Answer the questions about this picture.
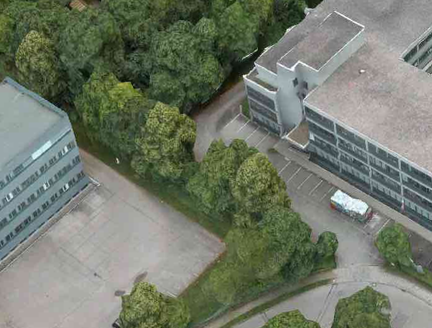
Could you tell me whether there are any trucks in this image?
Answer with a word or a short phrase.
Yes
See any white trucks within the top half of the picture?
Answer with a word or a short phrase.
No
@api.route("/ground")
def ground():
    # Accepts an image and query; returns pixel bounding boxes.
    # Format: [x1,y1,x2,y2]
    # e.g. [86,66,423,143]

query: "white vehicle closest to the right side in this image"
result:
[330,186,373,225]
